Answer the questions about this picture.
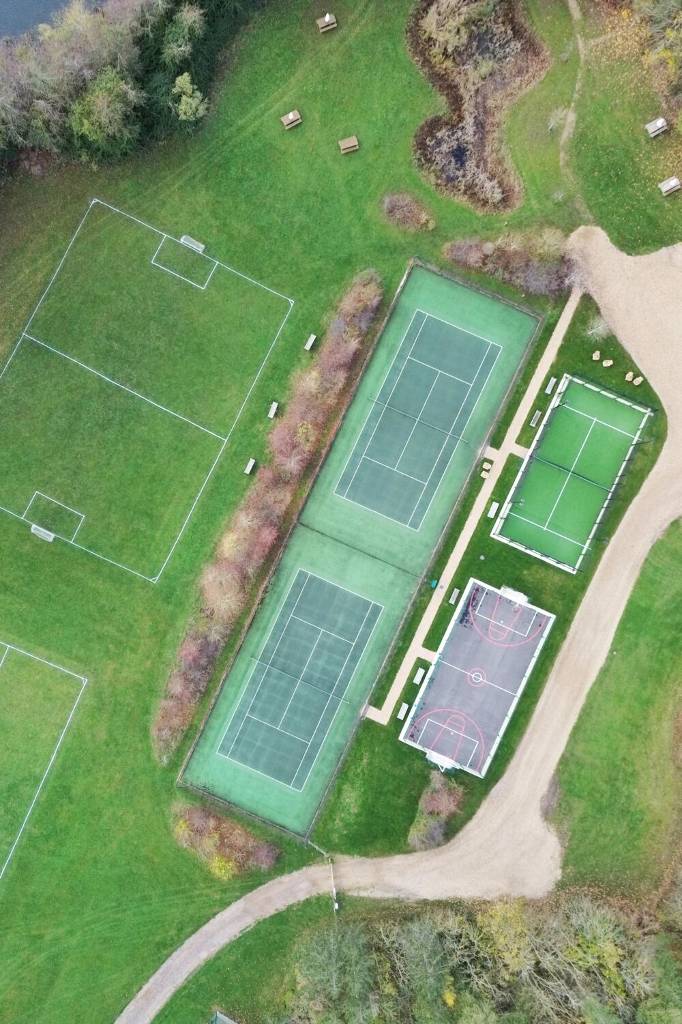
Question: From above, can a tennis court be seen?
Yes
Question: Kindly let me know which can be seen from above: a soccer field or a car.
soccer field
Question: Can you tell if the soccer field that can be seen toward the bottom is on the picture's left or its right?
left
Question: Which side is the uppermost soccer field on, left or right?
left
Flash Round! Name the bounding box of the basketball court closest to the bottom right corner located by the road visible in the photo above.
[399,578,556,778]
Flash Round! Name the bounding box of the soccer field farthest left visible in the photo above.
[0,641,86,871]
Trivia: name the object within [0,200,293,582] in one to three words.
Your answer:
soccer field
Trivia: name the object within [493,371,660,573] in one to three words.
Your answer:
sports court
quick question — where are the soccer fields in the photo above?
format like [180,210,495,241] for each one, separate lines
[0,200,293,582]
[0,641,86,871]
